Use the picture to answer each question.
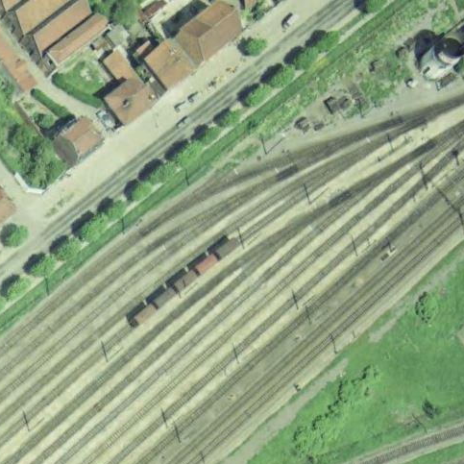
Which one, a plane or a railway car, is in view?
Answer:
railway car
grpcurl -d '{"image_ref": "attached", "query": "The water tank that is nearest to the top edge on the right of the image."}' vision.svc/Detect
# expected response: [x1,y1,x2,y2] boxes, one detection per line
[418,37,464,84]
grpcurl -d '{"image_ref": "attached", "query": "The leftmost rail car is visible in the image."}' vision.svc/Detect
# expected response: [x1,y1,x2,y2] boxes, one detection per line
[132,302,158,325]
